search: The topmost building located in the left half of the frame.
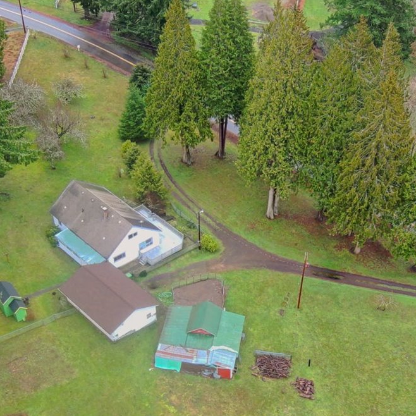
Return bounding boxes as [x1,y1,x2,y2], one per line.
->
[50,180,184,270]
